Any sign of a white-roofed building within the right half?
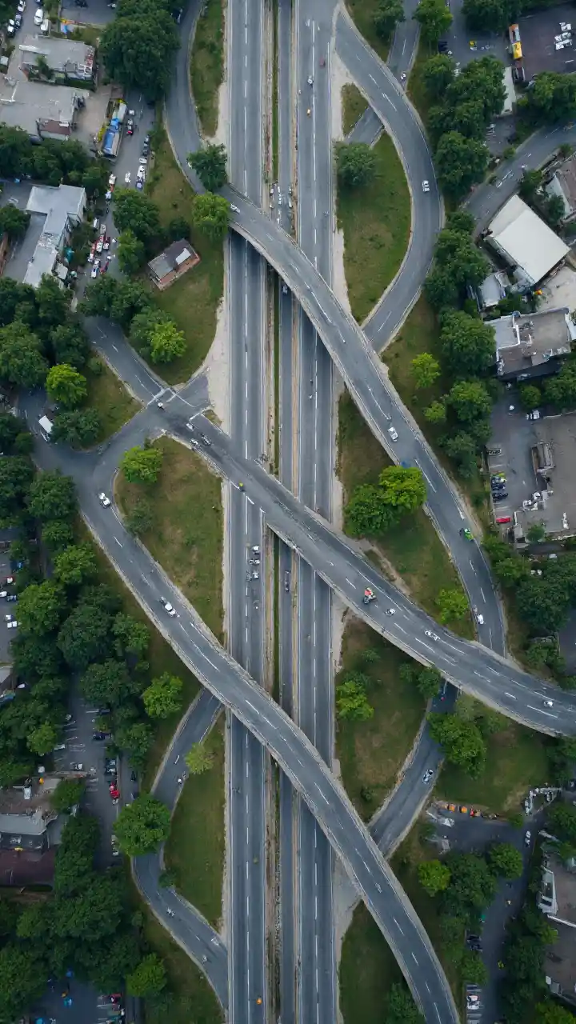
Yes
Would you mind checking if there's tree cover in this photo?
Yes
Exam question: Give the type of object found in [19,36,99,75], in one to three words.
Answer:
house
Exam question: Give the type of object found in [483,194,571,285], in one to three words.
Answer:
building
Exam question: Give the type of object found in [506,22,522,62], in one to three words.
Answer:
vehicle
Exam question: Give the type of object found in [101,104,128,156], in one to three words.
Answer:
truck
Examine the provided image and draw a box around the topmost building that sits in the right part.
[499,67,516,121]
